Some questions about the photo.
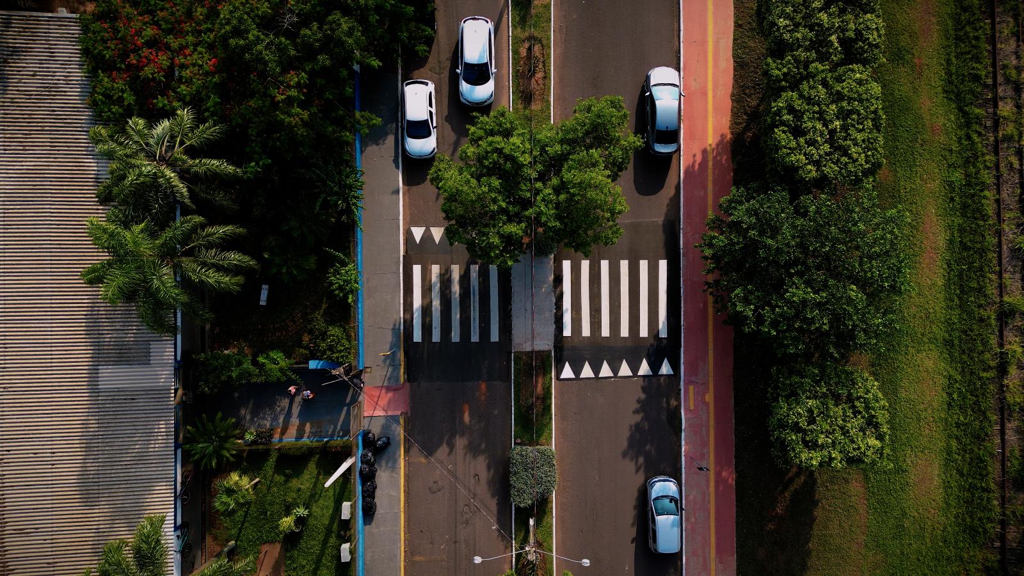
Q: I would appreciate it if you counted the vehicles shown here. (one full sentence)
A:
I count 4 vehicles.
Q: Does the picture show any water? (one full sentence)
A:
No, no water is visible.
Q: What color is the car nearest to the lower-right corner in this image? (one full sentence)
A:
The car nearest to the lower-right corner looks blue in the image.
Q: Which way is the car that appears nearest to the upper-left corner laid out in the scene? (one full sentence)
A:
I'd say the car that appears nearest to the upper-left corner is aligned from top to bottom in the picture.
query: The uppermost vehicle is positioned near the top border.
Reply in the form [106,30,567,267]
[454,14,498,108]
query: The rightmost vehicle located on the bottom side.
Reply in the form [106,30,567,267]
[645,473,686,557]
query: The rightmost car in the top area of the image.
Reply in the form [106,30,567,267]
[644,68,686,156]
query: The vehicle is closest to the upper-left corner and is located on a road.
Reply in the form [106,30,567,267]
[399,76,440,162]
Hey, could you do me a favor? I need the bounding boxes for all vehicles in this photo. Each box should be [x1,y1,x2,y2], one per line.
[454,14,498,108]
[644,68,686,156]
[645,473,686,557]
[399,76,440,162]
